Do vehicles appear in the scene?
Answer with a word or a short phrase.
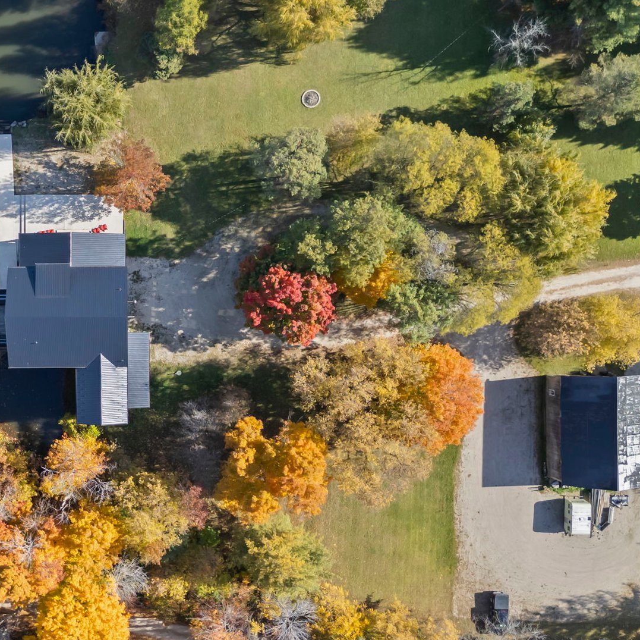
Yes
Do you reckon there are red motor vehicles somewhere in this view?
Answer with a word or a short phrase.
No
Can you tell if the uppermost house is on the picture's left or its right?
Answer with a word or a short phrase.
left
